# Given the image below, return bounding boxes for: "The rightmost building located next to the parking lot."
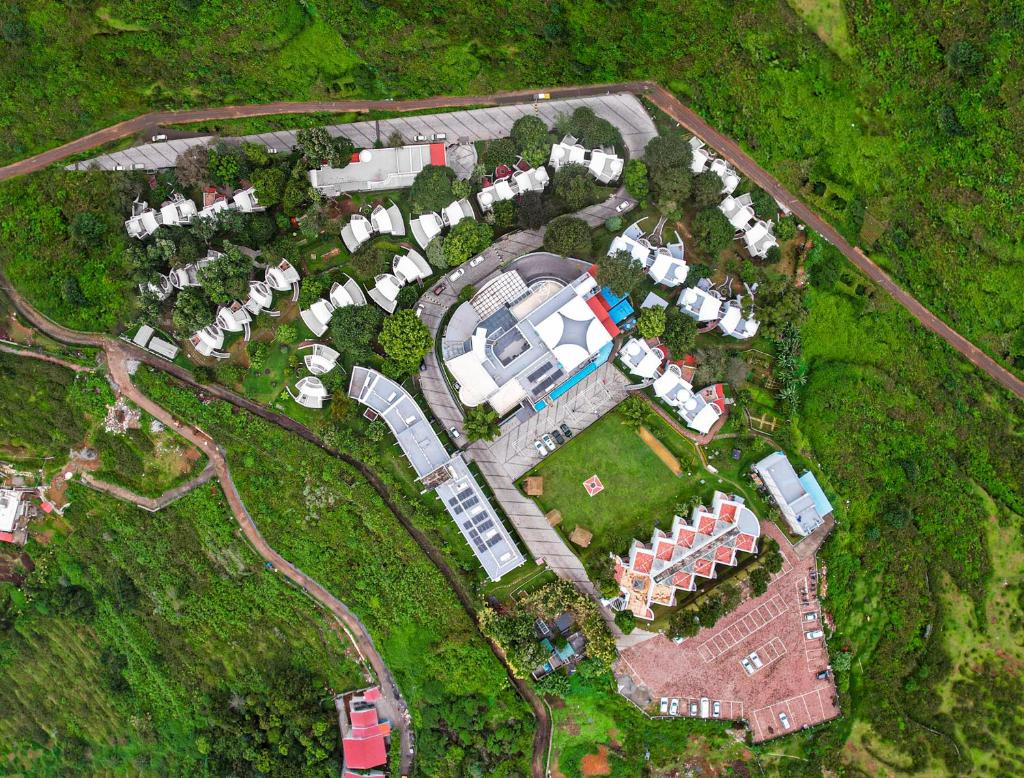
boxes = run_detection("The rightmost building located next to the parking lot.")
[761,450,833,537]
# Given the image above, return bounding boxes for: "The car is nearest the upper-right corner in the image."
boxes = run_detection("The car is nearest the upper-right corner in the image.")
[614,201,630,213]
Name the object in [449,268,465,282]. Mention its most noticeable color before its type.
white car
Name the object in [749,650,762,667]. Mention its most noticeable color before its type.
white vehicle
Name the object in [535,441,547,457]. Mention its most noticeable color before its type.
white vehicle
